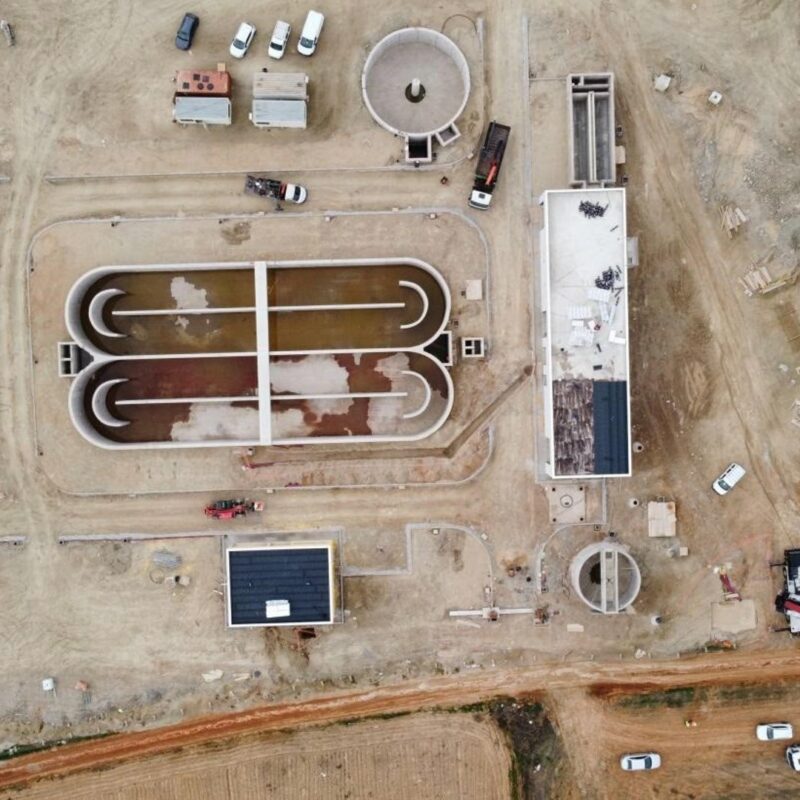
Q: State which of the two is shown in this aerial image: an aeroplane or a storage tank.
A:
storage tank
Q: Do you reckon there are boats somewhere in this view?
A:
No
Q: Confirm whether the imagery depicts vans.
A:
Yes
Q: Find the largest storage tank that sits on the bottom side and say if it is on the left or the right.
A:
right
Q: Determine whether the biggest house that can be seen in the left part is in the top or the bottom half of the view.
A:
bottom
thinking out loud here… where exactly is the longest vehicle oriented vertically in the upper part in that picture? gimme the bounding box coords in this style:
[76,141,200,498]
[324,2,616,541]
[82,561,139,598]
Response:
[467,119,511,212]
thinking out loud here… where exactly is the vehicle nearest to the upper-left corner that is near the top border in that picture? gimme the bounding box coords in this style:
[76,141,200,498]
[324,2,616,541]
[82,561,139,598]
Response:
[176,12,200,54]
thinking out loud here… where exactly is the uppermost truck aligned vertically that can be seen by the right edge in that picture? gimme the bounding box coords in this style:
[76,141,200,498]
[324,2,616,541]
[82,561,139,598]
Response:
[762,548,800,639]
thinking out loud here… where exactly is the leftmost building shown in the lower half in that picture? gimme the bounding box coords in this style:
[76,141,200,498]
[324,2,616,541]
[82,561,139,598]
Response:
[227,534,338,628]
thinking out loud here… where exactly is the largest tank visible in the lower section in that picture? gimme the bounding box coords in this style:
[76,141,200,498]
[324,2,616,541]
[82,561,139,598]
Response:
[570,541,641,616]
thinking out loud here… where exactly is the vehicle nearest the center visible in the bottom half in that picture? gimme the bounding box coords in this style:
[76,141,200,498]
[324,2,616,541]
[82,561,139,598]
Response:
[203,498,250,520]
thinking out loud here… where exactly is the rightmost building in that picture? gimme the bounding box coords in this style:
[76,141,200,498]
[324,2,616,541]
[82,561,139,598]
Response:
[535,188,639,477]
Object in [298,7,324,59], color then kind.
white vehicle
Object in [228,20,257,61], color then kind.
white car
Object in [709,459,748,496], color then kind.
white van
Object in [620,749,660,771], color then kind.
white car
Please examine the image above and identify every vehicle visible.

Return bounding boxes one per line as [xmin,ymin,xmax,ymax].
[762,548,800,639]
[709,459,748,496]
[467,119,511,212]
[753,720,792,741]
[620,749,660,771]
[269,20,291,62]
[298,7,324,59]
[176,12,200,54]
[203,498,250,520]
[242,177,308,205]
[228,20,257,61]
